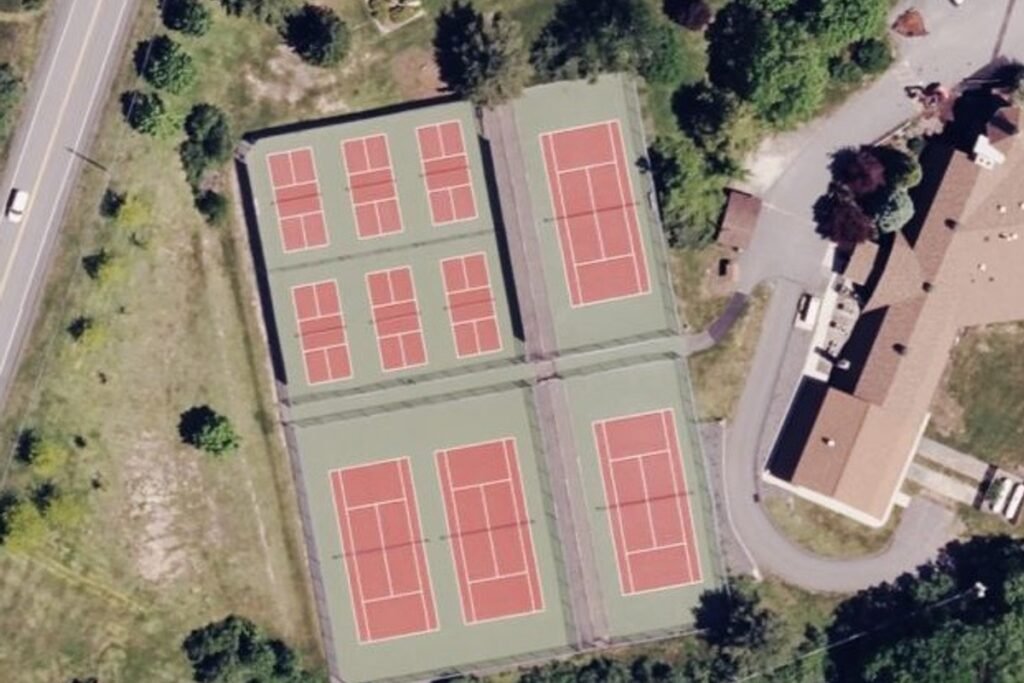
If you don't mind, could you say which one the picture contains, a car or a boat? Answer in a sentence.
I can see a car in this picture.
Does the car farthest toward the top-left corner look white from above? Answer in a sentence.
Yes, the car farthest toward the top-left corner appears white.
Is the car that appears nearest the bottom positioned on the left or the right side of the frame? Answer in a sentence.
You can find the car that appears nearest the bottom on the right side of the picture.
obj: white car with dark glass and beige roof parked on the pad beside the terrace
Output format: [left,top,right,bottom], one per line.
[796,293,818,328]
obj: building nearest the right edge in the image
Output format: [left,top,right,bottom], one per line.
[792,100,1024,521]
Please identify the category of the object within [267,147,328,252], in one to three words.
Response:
sports court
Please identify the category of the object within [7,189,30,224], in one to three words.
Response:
car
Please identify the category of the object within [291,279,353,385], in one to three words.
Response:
sports court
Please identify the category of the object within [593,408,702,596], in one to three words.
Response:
tennis court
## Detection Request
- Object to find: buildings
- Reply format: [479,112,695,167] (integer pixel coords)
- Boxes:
[718,192,762,246]
[792,100,1024,521]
